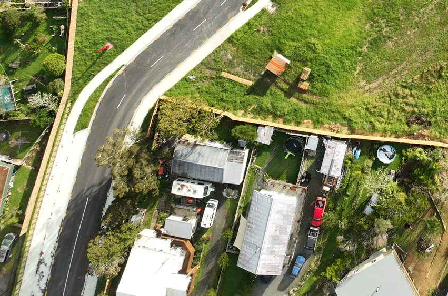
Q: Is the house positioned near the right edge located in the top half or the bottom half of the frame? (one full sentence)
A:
Seen from above, the house positioned near the right edge lies in the bottom half of the view.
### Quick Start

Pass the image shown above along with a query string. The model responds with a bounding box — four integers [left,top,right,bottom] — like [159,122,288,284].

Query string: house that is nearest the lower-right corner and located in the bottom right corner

[334,244,428,296]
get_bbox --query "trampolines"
[0,131,9,147]
[282,138,303,161]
